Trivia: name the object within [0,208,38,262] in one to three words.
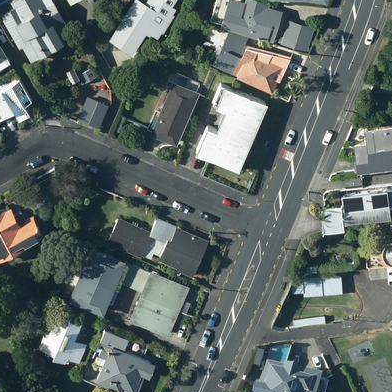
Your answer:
house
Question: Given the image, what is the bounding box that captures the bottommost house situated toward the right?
[252,358,330,392]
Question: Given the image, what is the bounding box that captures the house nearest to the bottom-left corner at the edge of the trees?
[38,323,87,365]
